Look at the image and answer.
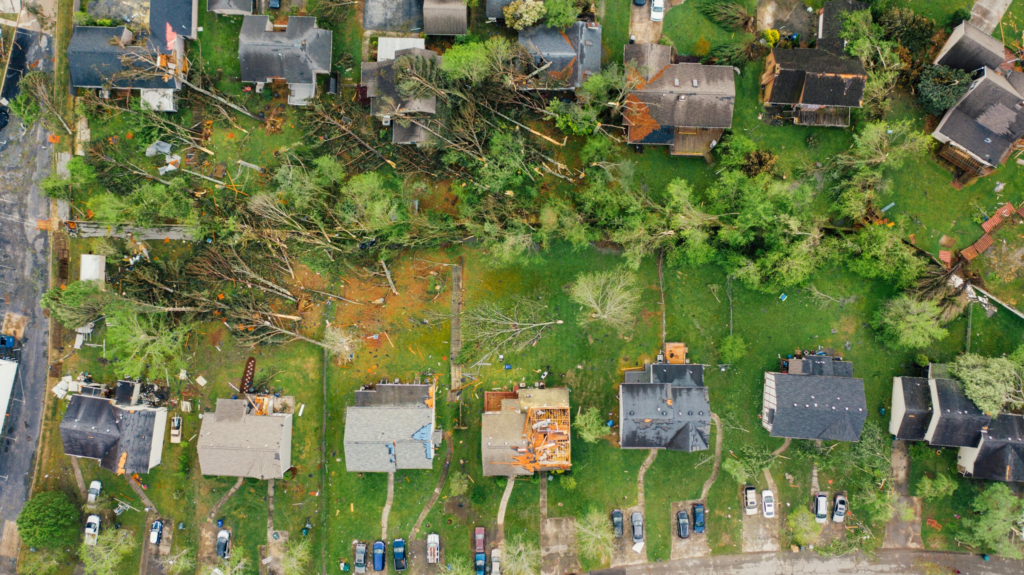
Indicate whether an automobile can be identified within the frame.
Yes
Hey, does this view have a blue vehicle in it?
Yes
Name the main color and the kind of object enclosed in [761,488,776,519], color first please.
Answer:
white car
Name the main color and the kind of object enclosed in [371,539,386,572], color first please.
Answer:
blue car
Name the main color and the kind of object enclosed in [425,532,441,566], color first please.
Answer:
white car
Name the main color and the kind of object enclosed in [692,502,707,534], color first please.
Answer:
blue car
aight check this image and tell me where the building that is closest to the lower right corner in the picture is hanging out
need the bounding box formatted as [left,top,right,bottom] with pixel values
[886,362,1024,486]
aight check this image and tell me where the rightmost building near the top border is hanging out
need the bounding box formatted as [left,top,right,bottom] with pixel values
[932,20,1024,190]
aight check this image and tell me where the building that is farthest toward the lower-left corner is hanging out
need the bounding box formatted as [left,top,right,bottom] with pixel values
[55,380,165,474]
